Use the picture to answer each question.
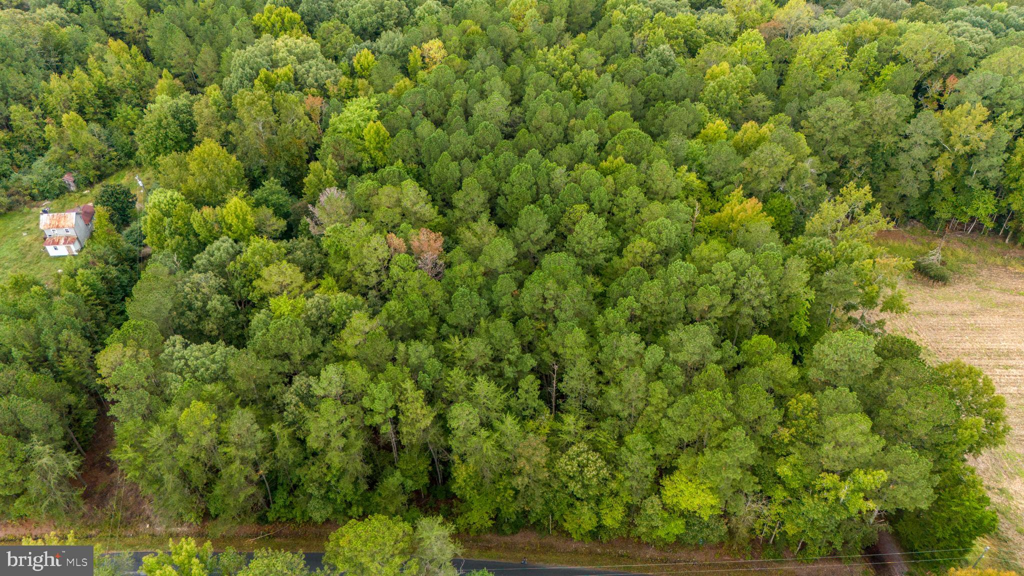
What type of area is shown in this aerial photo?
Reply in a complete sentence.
The picture captures a forest.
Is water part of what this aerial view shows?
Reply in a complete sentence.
No, there is no water in the image.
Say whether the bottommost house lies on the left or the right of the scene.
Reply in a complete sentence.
You can find the bottommost house on the left side of the picture.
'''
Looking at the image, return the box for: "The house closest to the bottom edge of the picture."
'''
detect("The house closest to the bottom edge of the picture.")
[42,202,100,258]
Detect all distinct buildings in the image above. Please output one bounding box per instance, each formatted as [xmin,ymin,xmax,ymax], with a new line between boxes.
[55,176,80,195]
[42,202,100,258]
